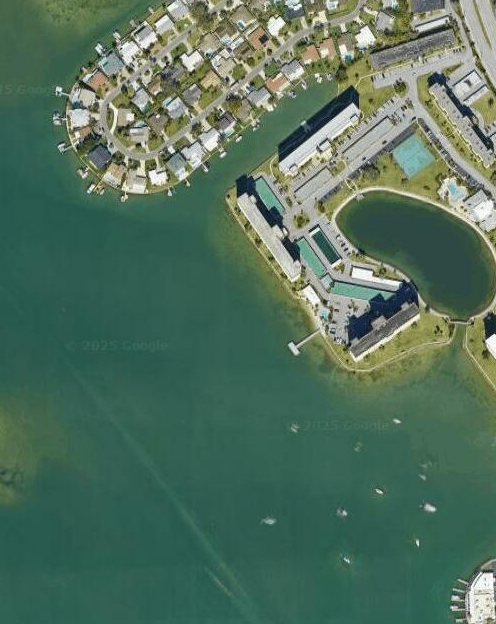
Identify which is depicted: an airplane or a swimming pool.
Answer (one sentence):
It is a swimming pool that can be seen here.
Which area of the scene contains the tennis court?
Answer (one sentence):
The tennis court is located in the top right region of the scene.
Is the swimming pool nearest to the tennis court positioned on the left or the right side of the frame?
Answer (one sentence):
The swimming pool nearest to the tennis court sits on the right side.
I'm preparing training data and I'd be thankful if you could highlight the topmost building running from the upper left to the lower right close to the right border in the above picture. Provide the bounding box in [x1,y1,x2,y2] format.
[429,83,494,171]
